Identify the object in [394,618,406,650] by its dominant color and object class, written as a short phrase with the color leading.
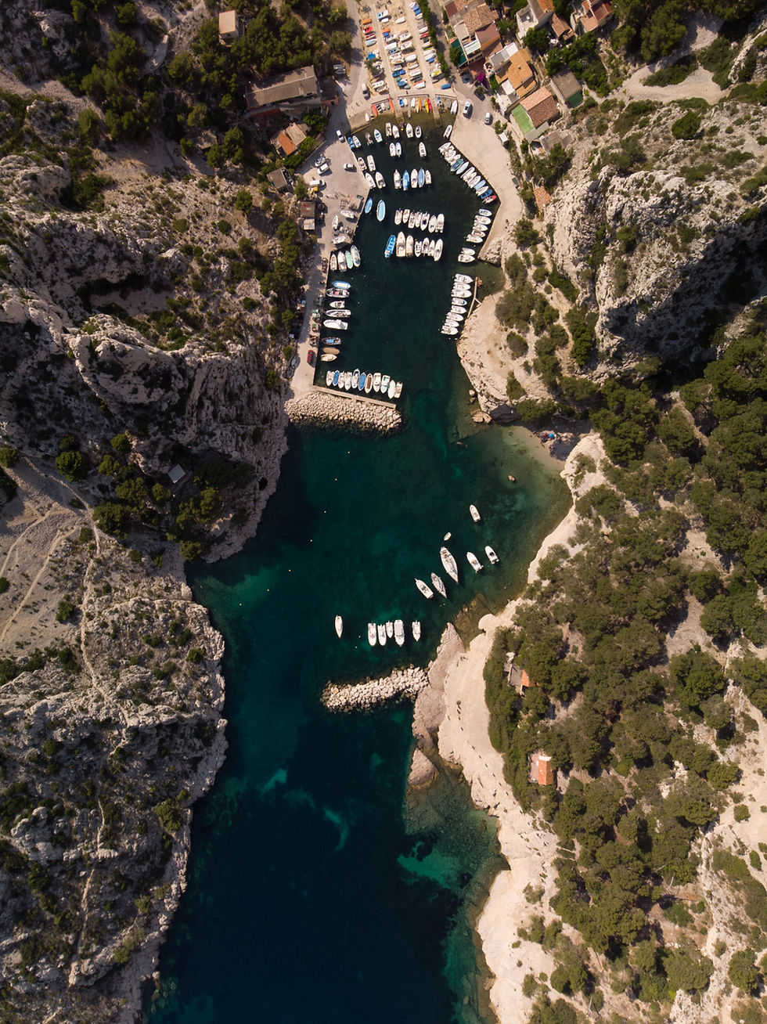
white boat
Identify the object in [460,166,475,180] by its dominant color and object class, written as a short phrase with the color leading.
white boat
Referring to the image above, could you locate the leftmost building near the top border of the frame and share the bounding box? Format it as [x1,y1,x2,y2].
[219,12,239,46]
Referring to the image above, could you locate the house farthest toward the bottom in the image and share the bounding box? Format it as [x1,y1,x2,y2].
[529,751,554,786]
